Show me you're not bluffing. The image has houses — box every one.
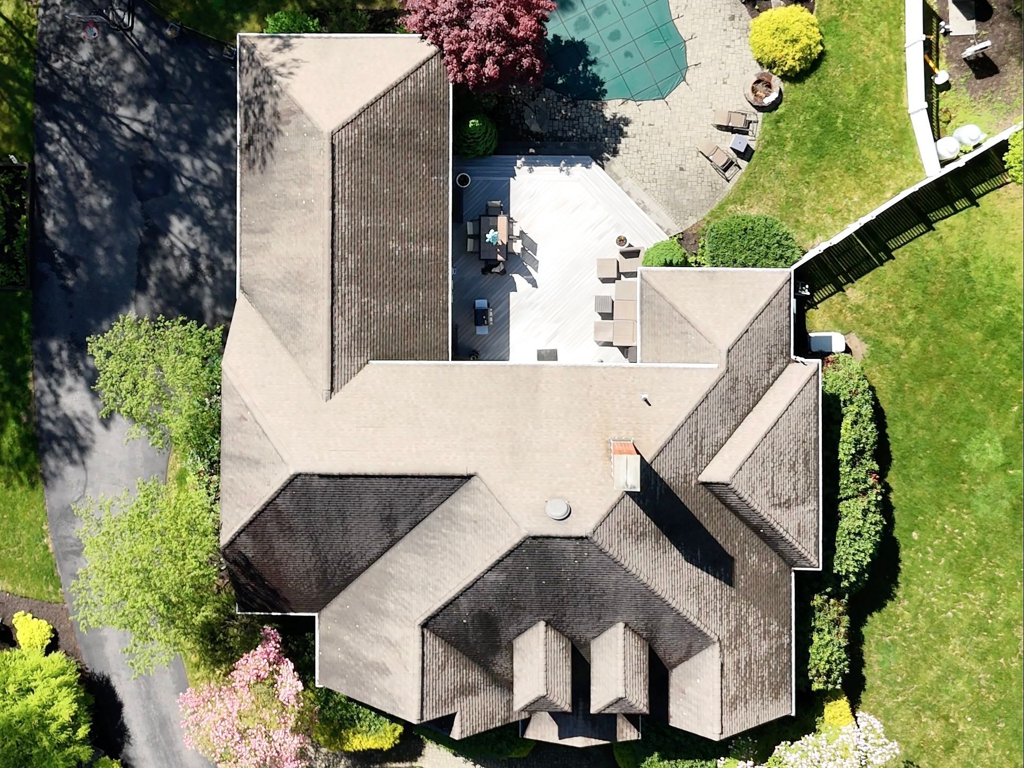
[219,30,824,747]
